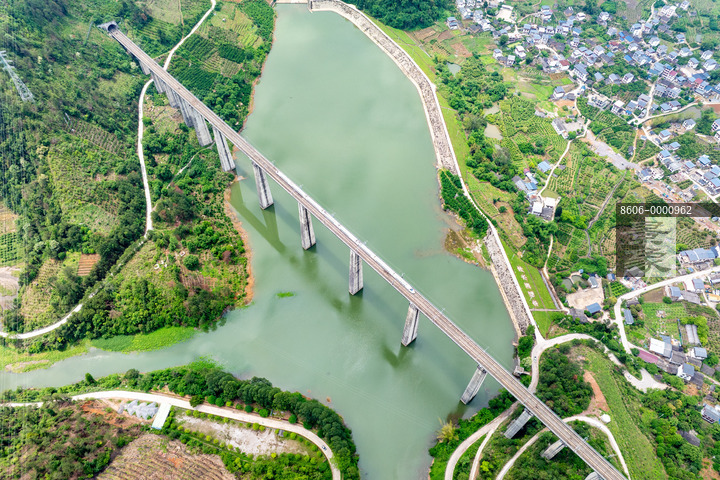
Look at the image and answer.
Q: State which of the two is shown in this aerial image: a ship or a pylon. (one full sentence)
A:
There is a pylon in the scene.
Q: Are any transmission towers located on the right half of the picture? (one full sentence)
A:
No, I see no transmission tower on the right half of the picture.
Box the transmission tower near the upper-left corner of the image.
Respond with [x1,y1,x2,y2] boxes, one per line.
[2,66,33,105]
